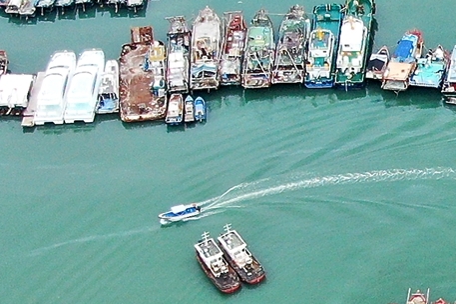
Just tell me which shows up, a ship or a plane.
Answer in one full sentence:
There is a ship in the scene.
